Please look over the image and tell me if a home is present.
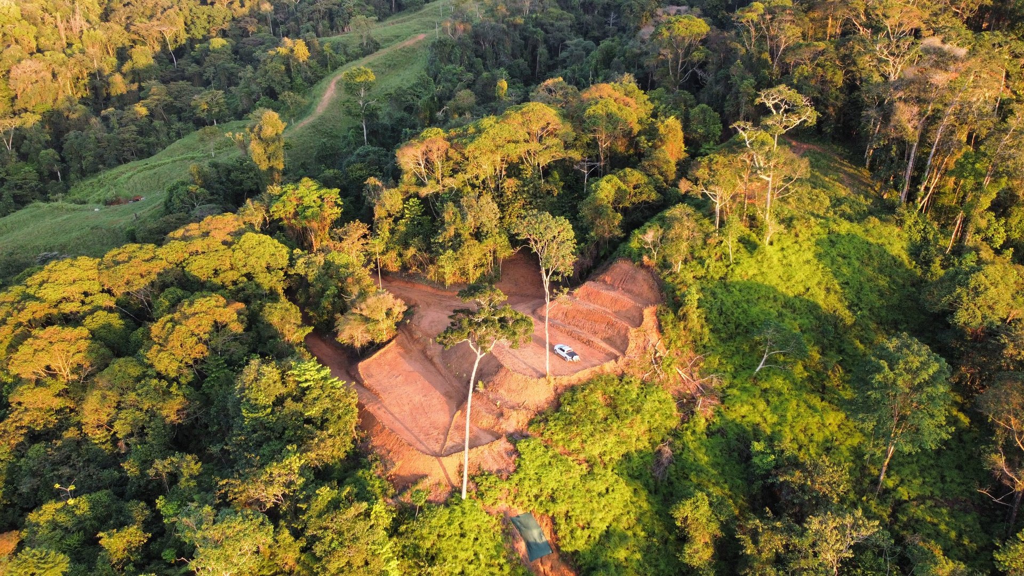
No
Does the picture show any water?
No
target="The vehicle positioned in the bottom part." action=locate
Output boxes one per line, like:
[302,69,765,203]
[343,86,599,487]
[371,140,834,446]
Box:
[554,344,581,360]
